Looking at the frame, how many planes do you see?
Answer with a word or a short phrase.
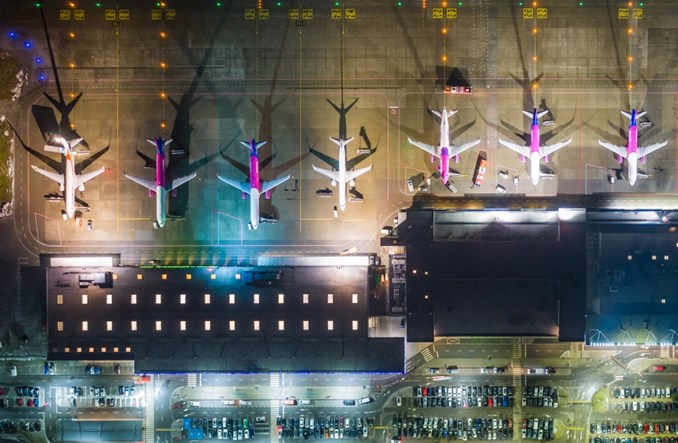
7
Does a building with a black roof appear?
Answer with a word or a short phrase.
Yes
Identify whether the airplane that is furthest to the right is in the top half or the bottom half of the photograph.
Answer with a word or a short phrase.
top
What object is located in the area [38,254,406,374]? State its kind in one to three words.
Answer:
building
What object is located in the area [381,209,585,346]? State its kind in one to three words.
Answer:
building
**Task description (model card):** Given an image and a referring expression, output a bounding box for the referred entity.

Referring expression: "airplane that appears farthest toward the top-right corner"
[595,107,672,187]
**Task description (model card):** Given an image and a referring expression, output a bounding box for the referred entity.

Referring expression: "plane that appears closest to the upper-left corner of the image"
[28,140,104,219]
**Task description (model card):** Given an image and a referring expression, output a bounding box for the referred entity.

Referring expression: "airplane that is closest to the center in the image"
[312,134,372,211]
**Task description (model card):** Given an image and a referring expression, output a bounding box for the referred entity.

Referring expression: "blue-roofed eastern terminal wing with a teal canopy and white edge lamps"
[585,210,678,345]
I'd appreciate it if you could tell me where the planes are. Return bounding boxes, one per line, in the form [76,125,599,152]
[595,107,672,187]
[122,134,197,228]
[498,107,574,187]
[216,136,291,230]
[312,134,372,211]
[28,140,104,219]
[407,105,483,185]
